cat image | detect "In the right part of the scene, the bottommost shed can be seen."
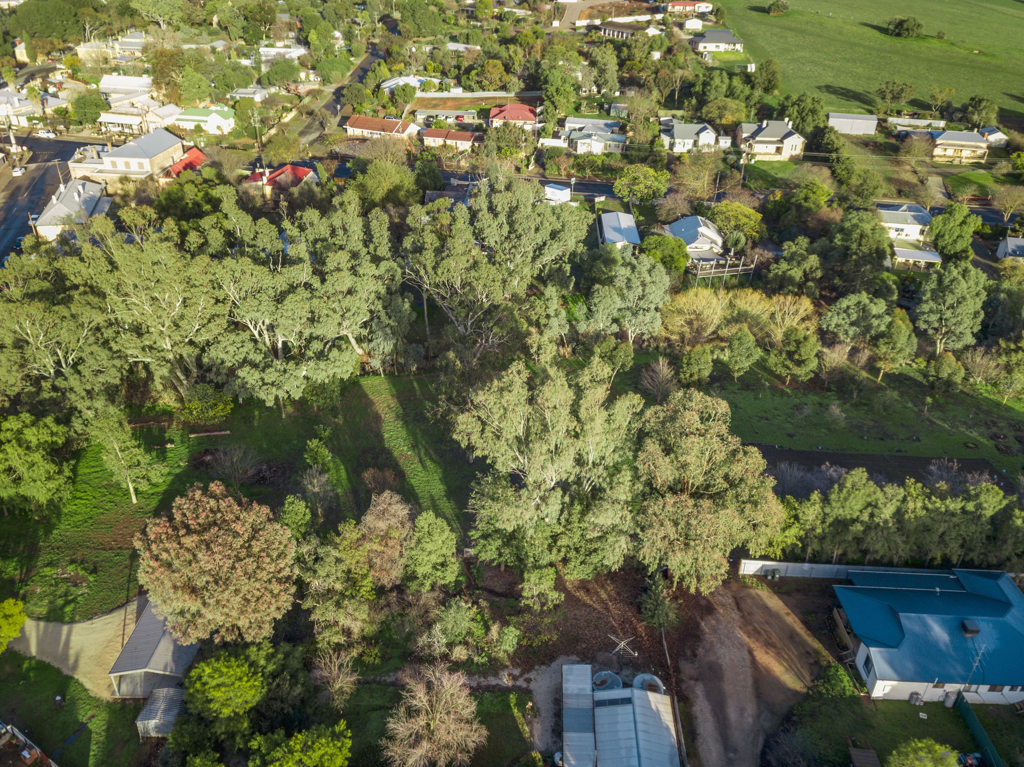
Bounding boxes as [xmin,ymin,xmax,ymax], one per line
[836,736,880,767]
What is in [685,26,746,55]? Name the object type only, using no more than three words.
house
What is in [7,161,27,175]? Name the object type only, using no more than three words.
car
